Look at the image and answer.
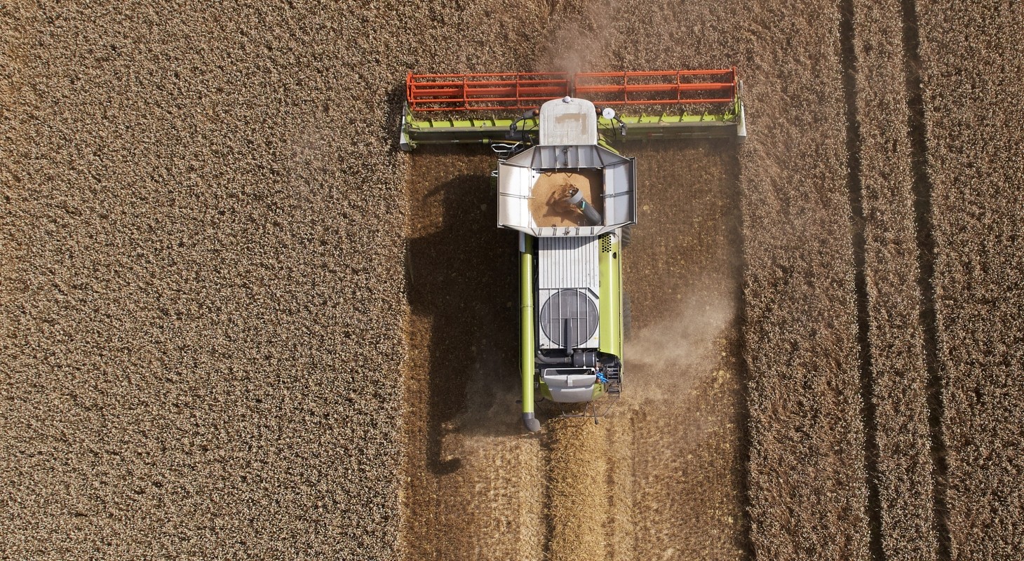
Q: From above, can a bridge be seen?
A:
No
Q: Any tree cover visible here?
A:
No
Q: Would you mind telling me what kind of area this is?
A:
farmland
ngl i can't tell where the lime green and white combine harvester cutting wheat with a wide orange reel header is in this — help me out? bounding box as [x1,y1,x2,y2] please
[398,68,748,435]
